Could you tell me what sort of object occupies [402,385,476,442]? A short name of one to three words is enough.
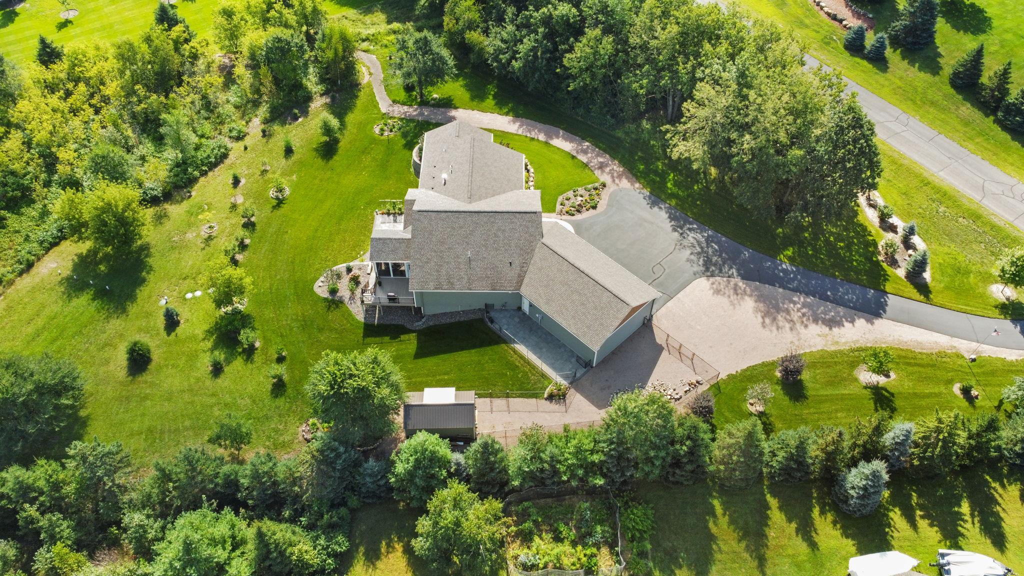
shed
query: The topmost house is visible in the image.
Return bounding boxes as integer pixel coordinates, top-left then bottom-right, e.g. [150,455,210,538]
[359,119,661,367]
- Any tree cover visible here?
Yes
